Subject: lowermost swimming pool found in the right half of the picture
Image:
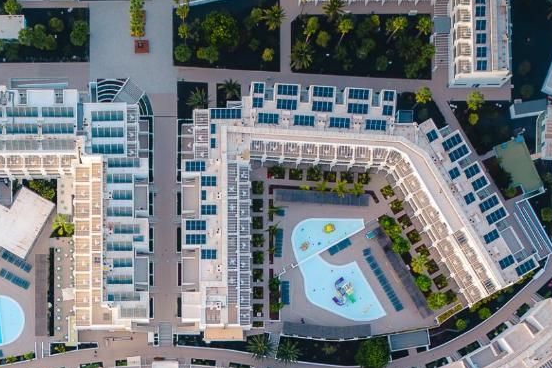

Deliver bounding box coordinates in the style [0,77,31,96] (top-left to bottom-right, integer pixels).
[299,255,386,321]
